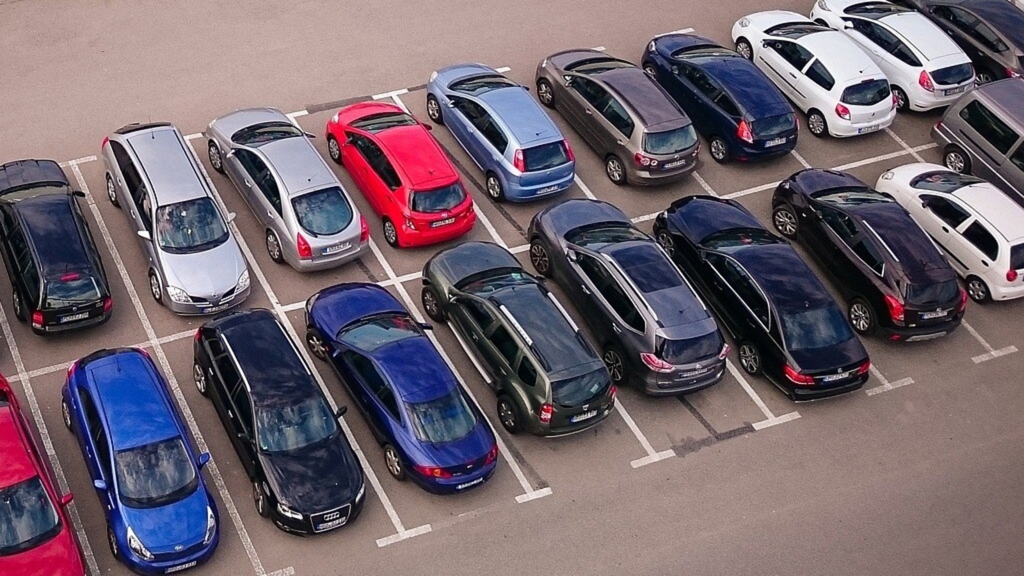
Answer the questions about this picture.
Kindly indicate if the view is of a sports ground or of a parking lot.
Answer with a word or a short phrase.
parking lot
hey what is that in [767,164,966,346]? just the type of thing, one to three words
car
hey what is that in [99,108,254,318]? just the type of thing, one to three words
car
